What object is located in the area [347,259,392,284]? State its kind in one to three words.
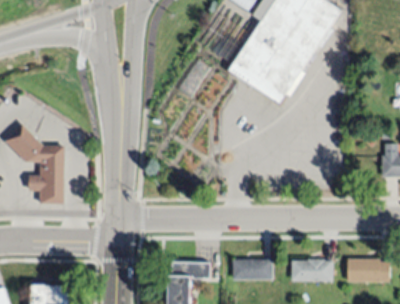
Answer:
house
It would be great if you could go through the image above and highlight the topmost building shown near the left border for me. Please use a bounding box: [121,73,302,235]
[6,127,64,204]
